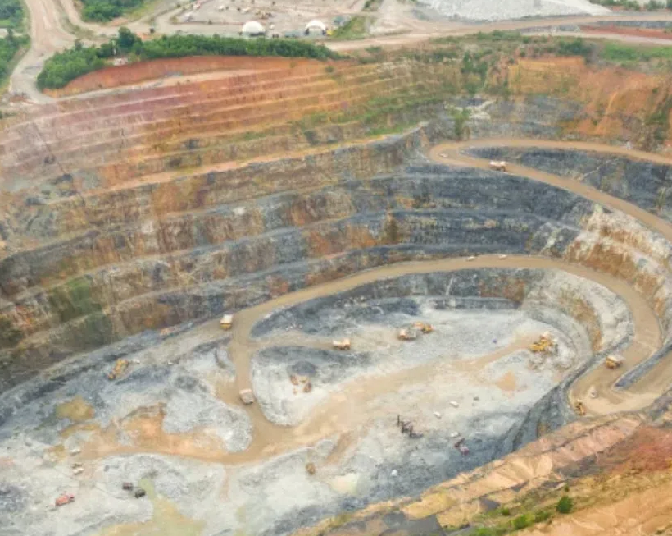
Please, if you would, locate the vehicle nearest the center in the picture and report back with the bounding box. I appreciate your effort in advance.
[333,336,350,349]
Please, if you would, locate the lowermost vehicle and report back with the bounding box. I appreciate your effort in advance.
[52,493,73,506]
